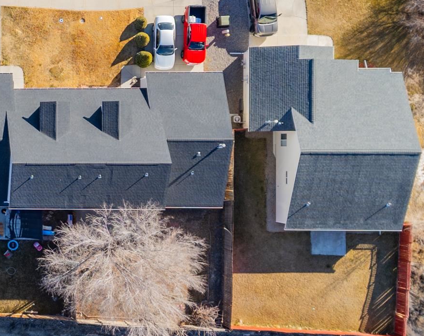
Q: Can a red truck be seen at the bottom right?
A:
No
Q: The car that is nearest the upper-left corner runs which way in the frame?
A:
up and down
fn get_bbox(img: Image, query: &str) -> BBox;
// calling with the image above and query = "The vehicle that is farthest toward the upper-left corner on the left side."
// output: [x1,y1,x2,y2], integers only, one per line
[151,16,177,69]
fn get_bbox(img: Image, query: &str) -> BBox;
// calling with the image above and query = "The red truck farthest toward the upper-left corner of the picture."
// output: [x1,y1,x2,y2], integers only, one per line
[180,5,207,64]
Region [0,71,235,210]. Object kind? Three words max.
house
